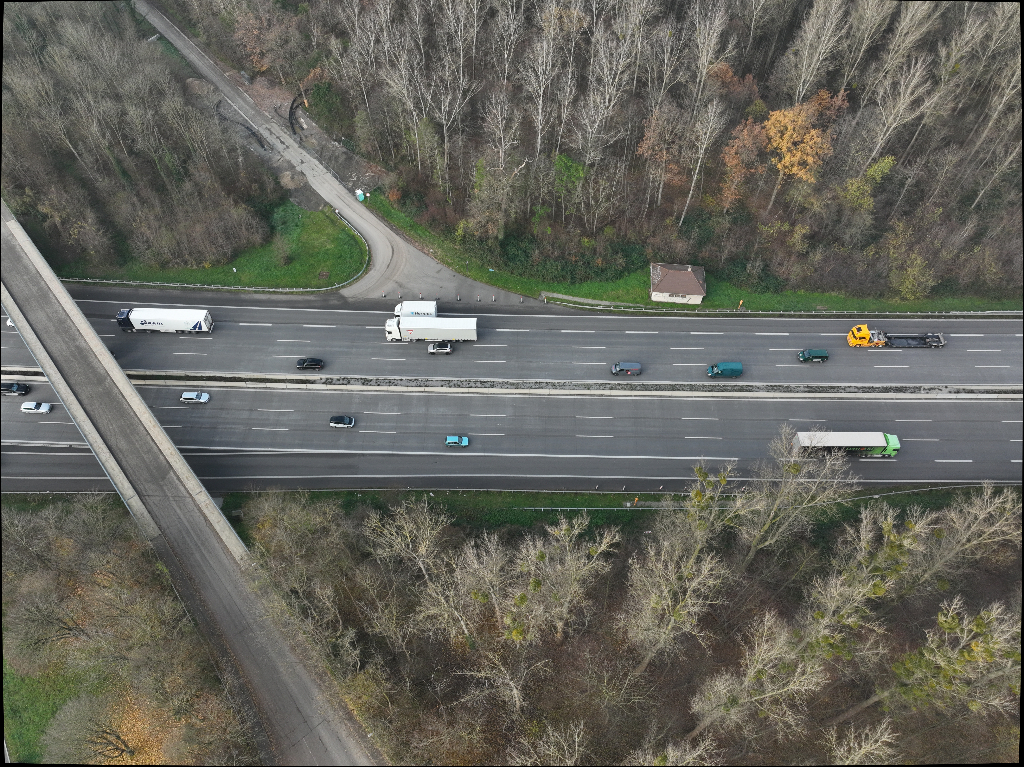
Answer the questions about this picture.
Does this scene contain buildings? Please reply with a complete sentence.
Yes, the frame does contain a building.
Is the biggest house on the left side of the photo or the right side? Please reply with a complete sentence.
The biggest house appears in the right half of the scene.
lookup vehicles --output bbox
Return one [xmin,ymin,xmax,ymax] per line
[446,434,469,447]
[179,390,211,404]
[706,360,744,378]
[297,357,325,370]
[611,359,642,376]
[20,400,54,413]
[796,349,830,363]
[788,432,903,459]
[0,381,32,395]
[5,318,18,328]
[392,301,438,321]
[428,341,452,354]
[844,323,948,347]
[385,317,478,342]
[329,414,356,428]
[115,307,215,333]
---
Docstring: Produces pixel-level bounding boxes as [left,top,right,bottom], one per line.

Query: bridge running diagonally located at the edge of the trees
[0,192,254,570]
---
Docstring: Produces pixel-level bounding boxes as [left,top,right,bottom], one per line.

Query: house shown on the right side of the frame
[650,264,707,304]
